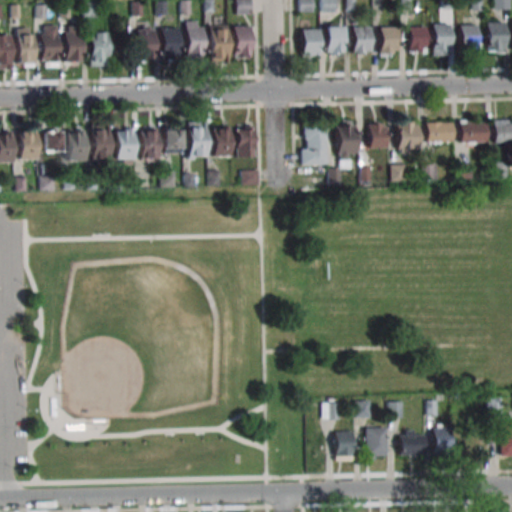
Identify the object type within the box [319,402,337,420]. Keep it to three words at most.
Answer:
building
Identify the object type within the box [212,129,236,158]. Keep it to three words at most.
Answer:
house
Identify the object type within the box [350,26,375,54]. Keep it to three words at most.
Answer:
house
